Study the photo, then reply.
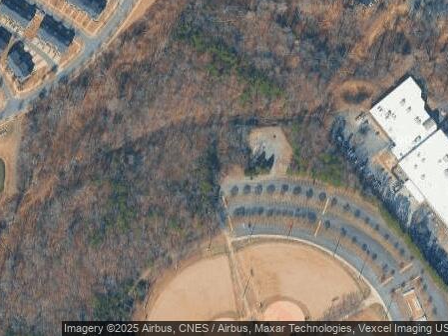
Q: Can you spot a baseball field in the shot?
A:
Yes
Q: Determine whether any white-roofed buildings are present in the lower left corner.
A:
No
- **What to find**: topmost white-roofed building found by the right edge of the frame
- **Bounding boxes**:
[369,76,436,159]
